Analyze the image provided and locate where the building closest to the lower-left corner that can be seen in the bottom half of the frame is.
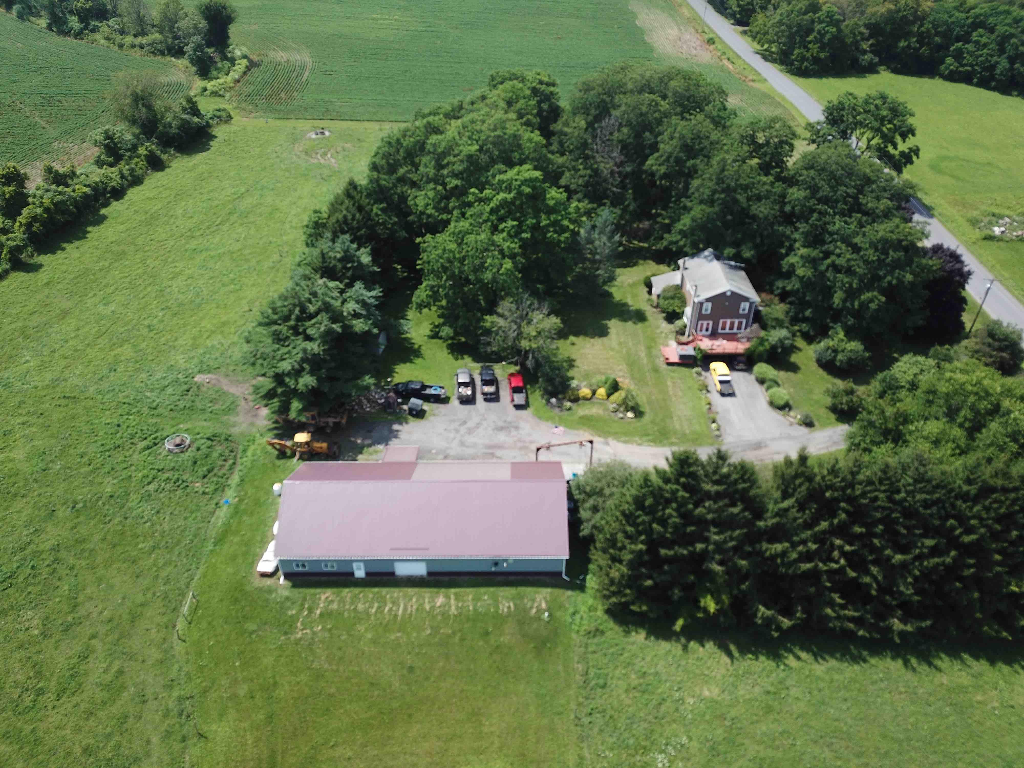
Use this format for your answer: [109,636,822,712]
[273,446,570,584]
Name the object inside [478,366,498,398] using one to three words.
vehicle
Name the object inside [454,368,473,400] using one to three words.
vehicle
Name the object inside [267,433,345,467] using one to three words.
work vehicle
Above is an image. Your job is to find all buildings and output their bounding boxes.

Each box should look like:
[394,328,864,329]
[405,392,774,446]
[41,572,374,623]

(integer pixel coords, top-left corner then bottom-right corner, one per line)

[273,446,570,584]
[648,246,759,352]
